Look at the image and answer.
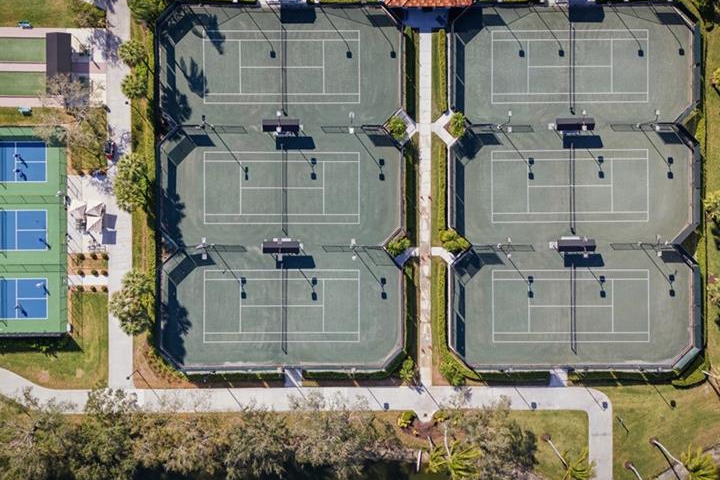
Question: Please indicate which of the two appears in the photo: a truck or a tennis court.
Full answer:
The image shows a tennis court.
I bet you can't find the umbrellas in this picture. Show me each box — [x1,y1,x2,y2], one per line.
[70,201,88,219]
[88,200,104,216]
[87,217,103,232]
